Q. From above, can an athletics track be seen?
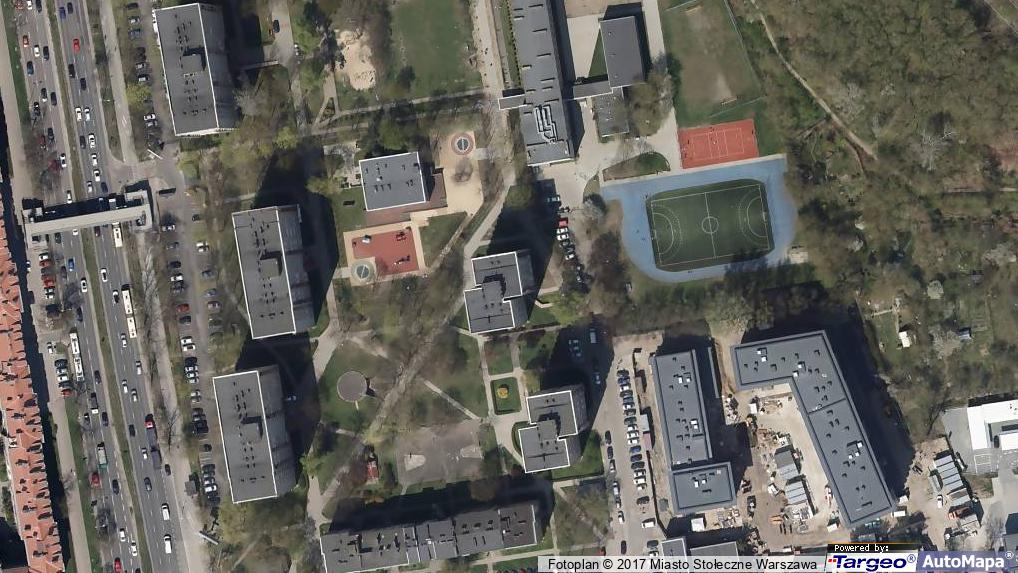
Yes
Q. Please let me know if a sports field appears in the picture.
Yes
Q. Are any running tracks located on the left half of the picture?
No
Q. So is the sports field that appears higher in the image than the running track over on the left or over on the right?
right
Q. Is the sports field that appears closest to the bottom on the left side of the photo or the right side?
right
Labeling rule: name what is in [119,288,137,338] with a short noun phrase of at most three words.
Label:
vehicle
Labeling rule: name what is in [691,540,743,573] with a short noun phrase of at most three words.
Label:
building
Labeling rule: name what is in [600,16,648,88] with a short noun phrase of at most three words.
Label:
building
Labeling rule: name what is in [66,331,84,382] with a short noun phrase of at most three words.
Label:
vehicle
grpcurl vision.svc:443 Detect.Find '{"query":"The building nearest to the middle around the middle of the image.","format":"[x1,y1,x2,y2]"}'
[464,249,536,333]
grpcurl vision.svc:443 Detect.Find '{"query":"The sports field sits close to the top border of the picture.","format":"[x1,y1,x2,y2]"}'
[681,3,753,109]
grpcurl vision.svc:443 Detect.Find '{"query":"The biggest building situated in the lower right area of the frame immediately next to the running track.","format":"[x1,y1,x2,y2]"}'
[732,327,897,525]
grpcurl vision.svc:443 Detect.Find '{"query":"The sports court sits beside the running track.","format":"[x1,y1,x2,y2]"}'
[678,119,759,168]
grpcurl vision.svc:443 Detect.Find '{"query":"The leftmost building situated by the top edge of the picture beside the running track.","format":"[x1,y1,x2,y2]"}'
[509,0,577,165]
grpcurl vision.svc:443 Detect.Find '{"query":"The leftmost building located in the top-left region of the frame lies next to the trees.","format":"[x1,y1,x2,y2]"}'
[155,3,240,135]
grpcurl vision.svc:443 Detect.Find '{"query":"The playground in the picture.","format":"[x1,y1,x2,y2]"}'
[352,228,419,276]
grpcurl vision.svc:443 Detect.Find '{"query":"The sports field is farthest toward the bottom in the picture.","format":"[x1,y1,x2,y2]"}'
[646,178,775,272]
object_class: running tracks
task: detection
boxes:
[601,157,797,282]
